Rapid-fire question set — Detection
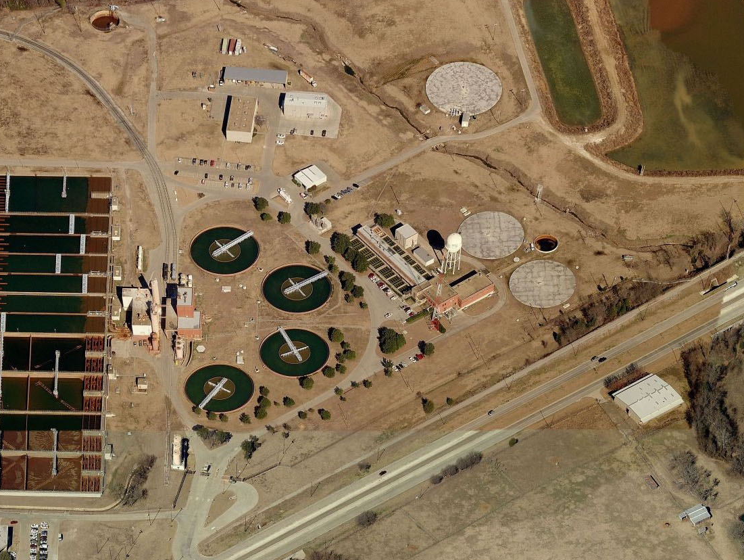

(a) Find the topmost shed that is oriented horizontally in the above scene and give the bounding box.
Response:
[223,68,288,89]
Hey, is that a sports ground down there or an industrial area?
industrial area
